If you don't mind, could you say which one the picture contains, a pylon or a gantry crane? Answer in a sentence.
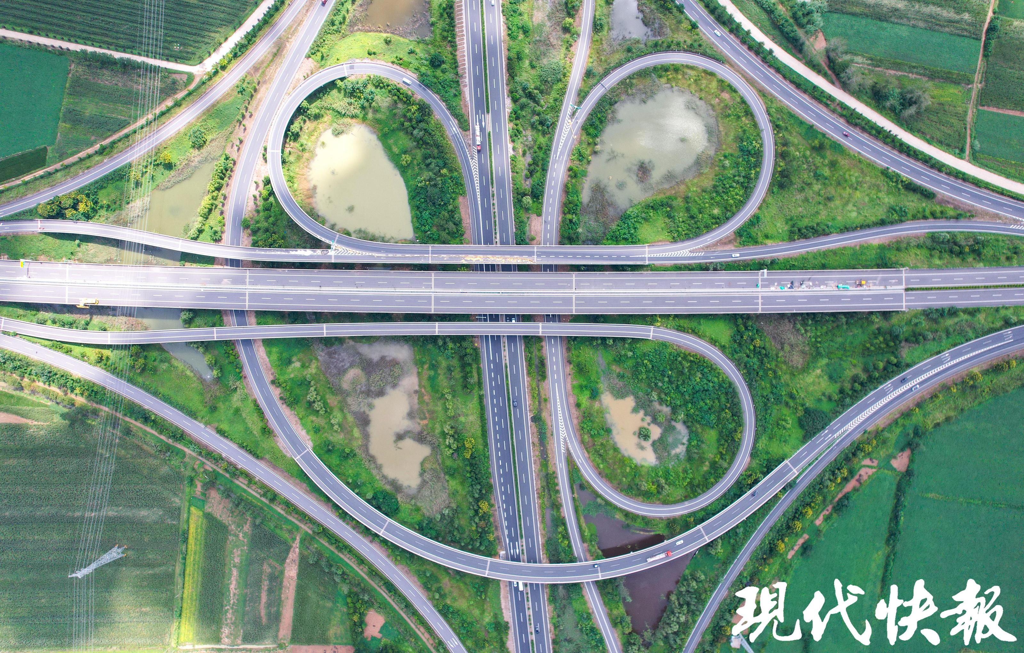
Visible in the photo is a pylon.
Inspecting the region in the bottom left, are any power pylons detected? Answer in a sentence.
Yes, I can see a power pylon in the bottom left.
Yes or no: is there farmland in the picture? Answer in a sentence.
Yes, there is farmland in the image.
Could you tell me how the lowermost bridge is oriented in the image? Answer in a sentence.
The lowermost bridge is laid out horizontally.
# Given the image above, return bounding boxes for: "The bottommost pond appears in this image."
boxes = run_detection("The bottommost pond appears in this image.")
[574,483,697,636]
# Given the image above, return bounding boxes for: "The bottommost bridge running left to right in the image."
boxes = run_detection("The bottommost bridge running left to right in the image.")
[295,446,798,584]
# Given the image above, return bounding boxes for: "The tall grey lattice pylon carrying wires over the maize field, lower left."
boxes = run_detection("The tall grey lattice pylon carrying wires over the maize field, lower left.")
[66,545,124,577]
